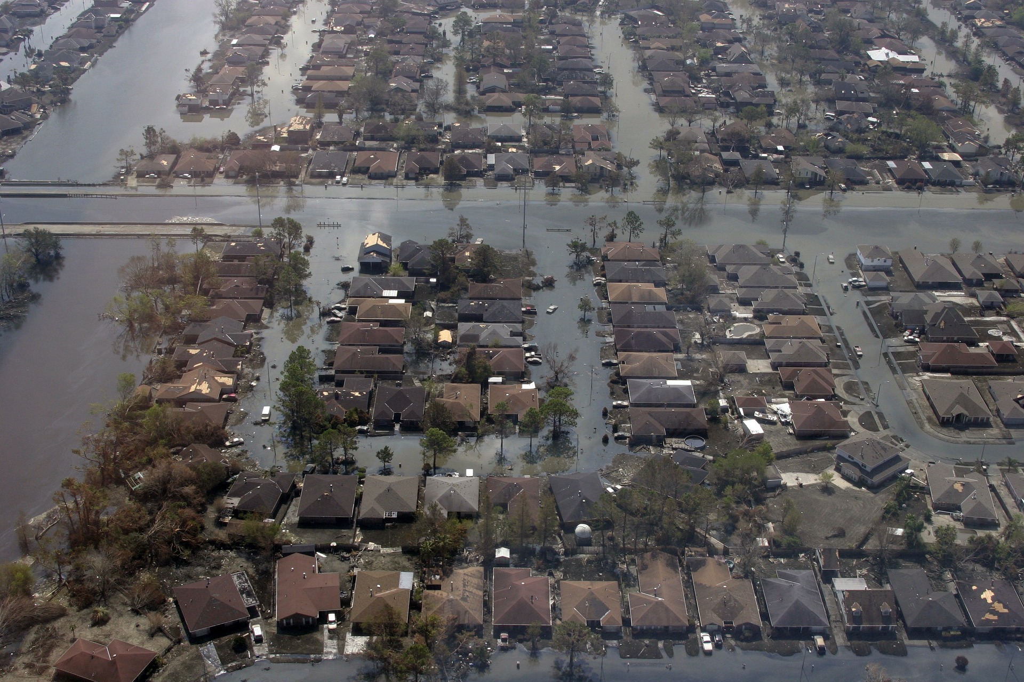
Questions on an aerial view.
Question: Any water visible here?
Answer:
Yes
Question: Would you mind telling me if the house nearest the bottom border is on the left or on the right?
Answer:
left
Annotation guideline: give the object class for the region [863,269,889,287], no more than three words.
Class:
building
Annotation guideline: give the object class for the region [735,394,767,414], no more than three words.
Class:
building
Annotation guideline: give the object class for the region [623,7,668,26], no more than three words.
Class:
house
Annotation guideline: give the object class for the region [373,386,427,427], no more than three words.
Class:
house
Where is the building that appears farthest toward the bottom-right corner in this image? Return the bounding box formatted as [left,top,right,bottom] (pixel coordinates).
[959,578,1024,634]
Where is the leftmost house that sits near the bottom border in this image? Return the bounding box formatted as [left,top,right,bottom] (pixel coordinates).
[53,638,160,682]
